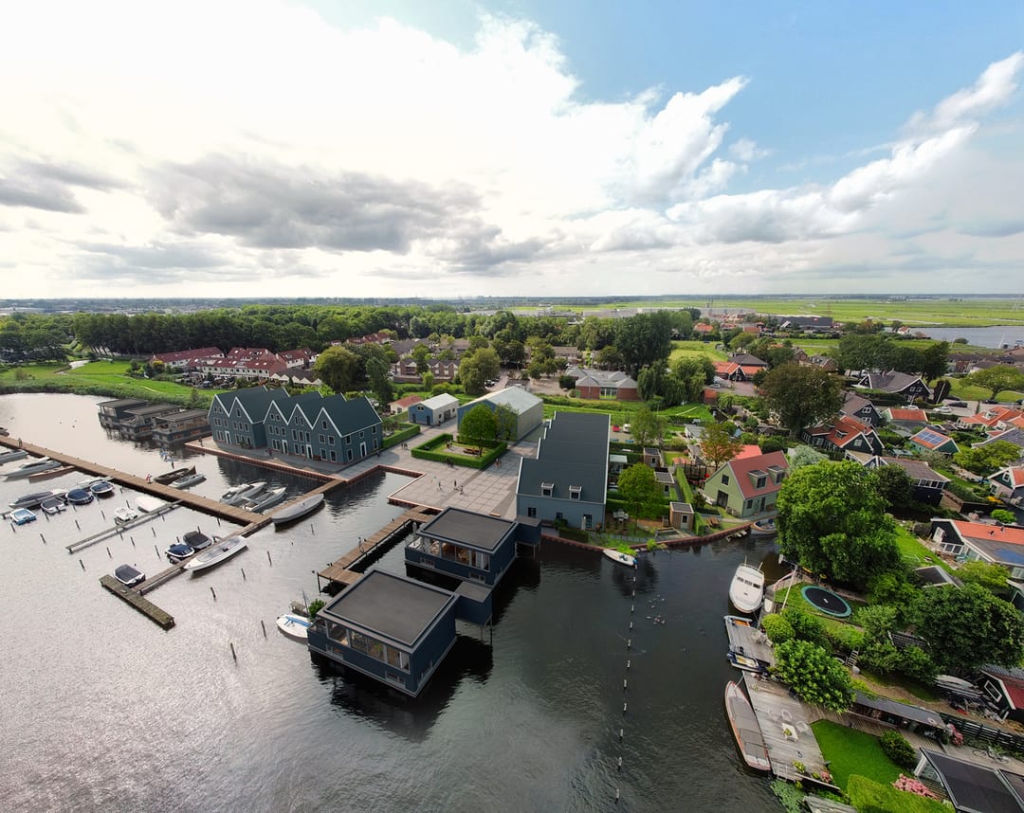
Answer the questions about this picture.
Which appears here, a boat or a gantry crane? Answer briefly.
boat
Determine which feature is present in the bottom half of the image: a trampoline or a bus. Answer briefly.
trampoline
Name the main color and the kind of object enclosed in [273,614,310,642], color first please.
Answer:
white boat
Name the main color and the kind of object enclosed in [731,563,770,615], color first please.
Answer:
white boat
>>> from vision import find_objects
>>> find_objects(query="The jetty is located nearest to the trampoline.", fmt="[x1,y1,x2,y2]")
[758,572,795,637]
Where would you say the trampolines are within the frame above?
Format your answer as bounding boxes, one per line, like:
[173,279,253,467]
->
[802,587,853,619]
